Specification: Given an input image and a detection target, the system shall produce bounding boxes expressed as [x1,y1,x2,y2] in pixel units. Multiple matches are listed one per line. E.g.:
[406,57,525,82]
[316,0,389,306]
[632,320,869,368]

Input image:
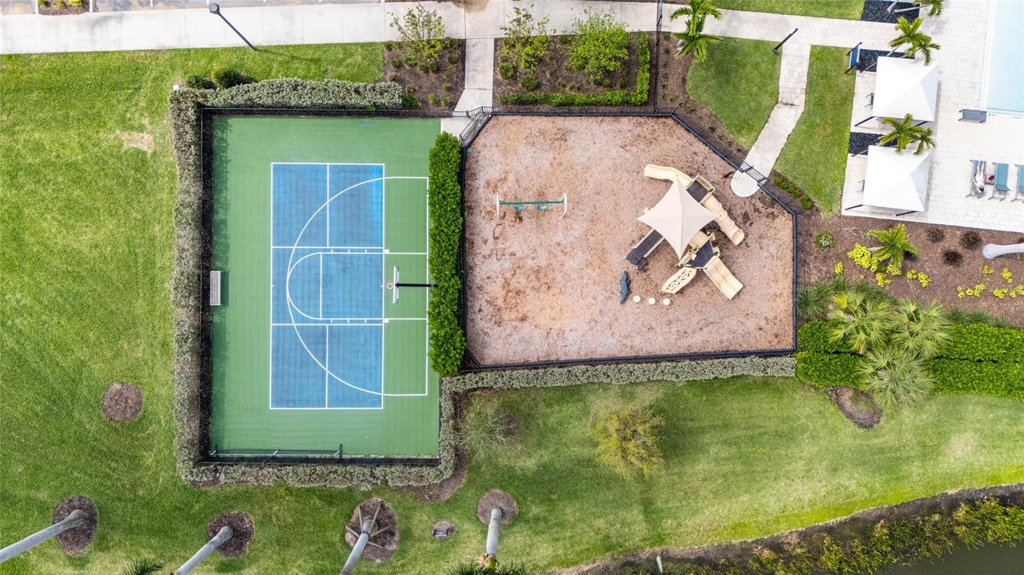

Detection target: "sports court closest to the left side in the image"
[212,117,440,456]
